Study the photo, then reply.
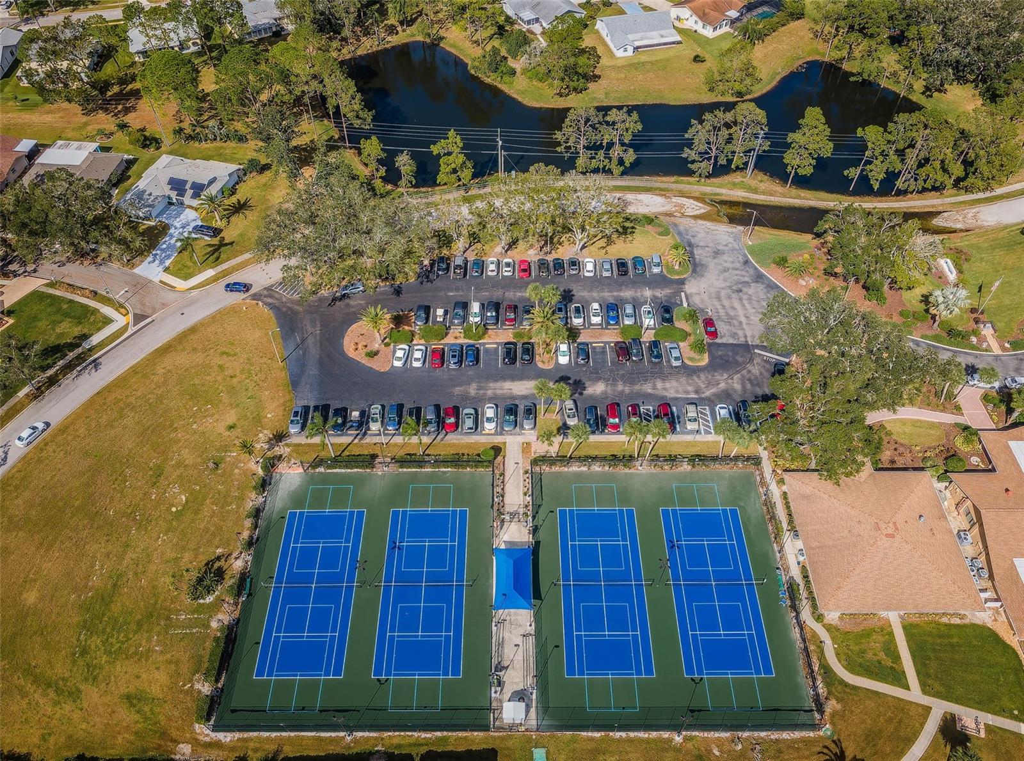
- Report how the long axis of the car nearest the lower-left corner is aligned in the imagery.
at an angle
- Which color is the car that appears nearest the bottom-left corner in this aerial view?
white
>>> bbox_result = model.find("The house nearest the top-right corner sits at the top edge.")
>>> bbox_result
[671,0,746,37]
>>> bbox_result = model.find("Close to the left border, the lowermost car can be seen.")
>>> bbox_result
[15,422,49,448]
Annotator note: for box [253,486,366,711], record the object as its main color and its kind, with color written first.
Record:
blue tennis court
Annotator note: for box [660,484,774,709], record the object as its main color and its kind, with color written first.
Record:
blue tennis court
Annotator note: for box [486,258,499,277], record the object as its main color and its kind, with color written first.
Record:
white vehicle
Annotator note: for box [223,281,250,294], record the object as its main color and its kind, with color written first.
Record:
blue vehicle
